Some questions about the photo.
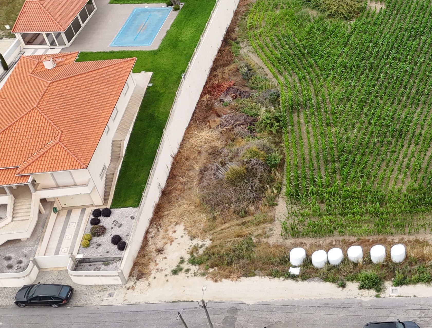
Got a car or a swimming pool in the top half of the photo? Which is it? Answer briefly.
swimming pool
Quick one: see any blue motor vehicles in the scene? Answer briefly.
No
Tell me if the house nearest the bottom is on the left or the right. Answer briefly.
left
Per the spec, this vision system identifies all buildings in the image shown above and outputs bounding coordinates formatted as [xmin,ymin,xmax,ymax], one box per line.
[0,49,153,242]
[6,0,96,46]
